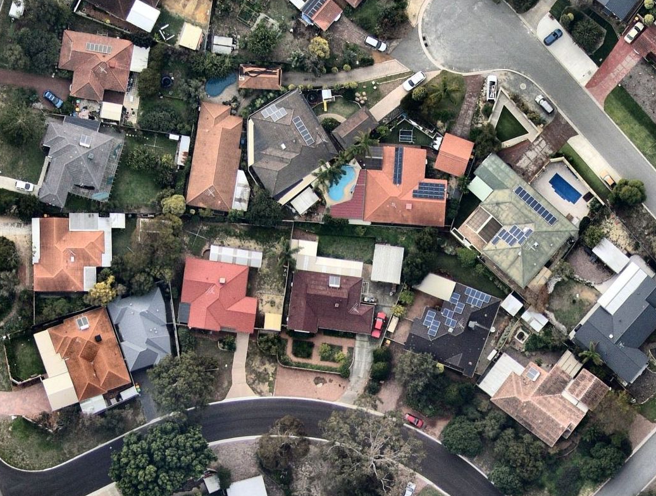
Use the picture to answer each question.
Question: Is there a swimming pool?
Yes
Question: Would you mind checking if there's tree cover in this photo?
Yes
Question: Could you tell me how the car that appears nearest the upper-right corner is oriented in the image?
at an angle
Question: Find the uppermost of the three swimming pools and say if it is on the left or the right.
left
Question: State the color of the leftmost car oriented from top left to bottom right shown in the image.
blue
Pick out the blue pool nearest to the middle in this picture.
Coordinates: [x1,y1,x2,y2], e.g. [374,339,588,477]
[329,165,358,203]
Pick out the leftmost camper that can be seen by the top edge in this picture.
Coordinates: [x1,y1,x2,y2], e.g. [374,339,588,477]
[9,0,23,23]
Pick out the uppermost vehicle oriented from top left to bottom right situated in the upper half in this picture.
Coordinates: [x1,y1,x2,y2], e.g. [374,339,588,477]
[364,34,389,53]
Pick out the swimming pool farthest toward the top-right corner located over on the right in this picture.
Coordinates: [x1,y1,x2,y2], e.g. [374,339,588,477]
[549,173,582,204]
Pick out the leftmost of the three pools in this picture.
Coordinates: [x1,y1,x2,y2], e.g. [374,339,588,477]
[206,76,231,98]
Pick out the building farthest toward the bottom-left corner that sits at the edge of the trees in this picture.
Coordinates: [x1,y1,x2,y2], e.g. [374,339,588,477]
[34,306,138,414]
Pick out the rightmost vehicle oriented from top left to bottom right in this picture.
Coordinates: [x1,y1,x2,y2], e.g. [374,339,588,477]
[599,170,618,190]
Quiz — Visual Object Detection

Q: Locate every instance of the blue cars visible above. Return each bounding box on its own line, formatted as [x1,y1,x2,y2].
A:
[543,28,565,46]
[42,89,64,110]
